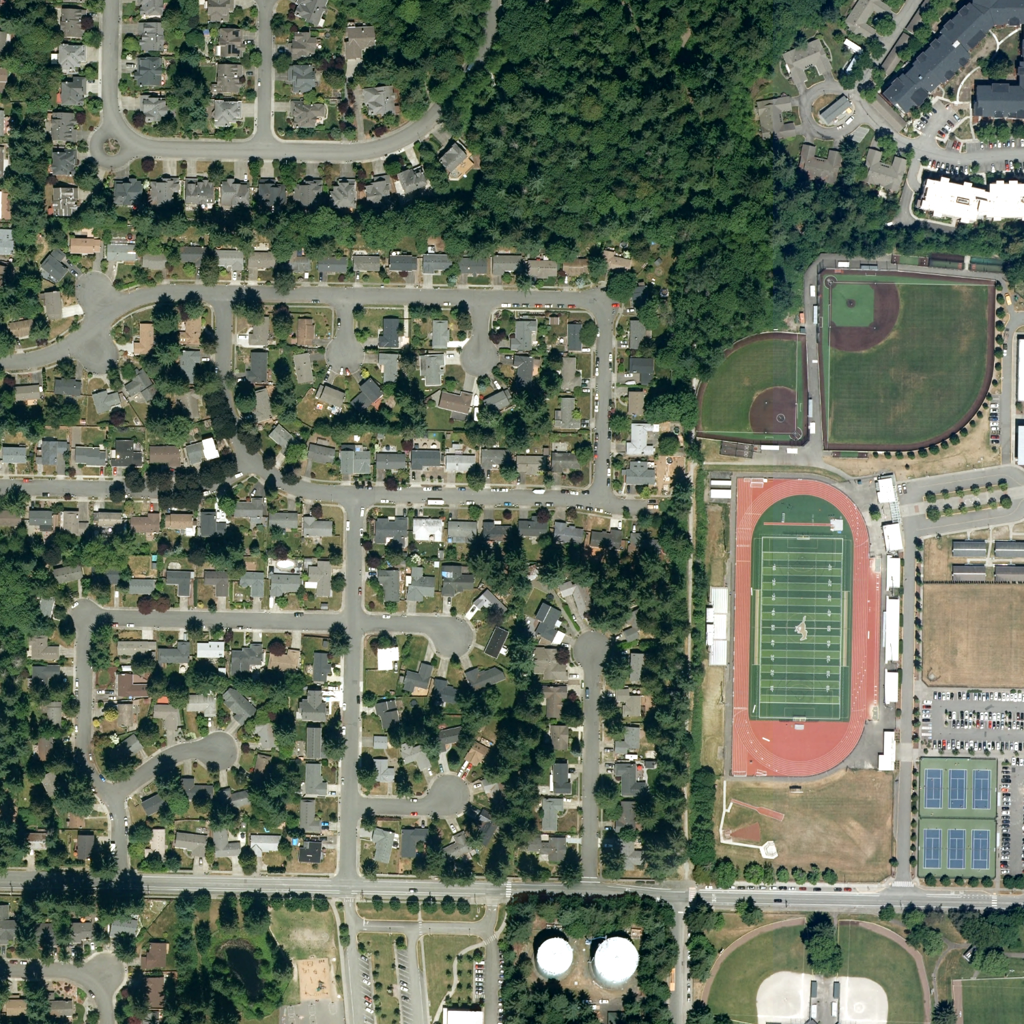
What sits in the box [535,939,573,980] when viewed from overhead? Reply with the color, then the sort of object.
white water tank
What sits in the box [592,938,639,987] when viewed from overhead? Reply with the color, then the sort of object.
white water tank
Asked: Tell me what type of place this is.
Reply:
residential area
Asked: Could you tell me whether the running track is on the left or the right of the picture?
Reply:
right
